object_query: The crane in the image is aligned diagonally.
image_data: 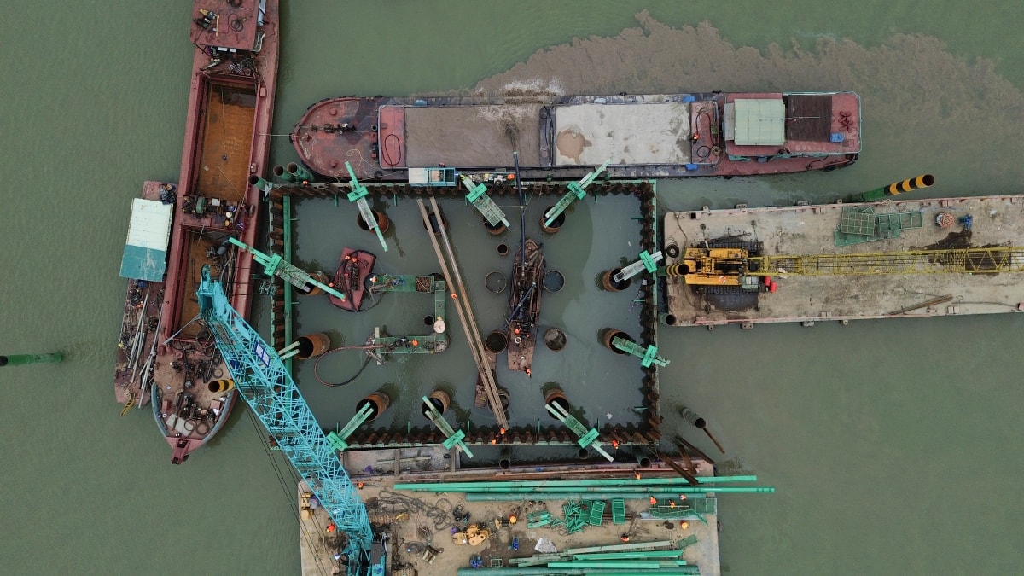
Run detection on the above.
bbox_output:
[192,269,417,576]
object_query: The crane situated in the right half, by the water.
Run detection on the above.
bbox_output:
[679,239,1024,294]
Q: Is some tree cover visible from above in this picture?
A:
No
